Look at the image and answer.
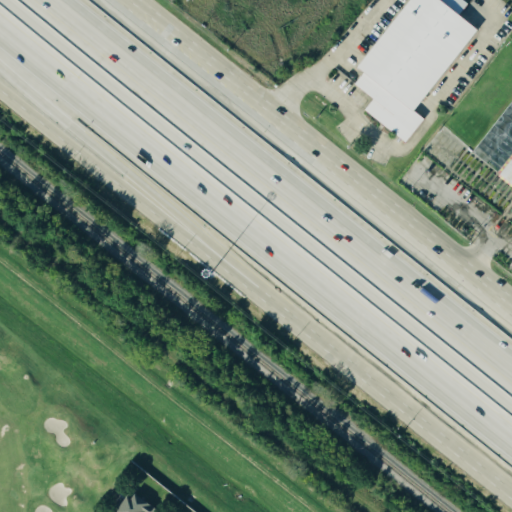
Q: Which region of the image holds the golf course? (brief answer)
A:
bottom left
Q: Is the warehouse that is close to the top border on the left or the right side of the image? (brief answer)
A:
right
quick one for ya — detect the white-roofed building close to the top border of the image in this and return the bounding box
[356,0,479,142]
